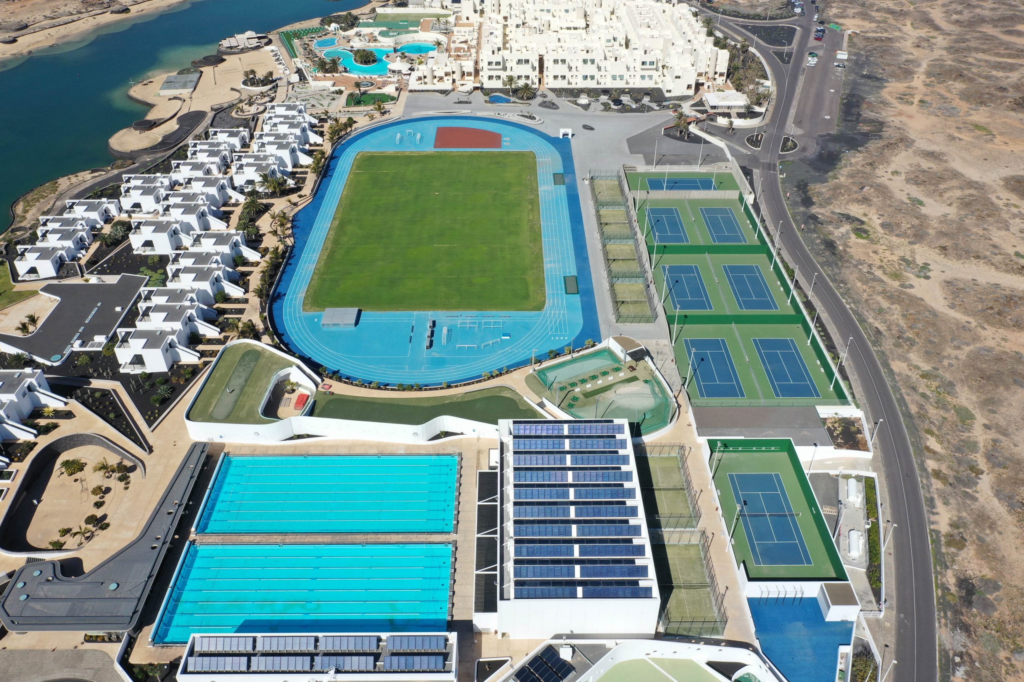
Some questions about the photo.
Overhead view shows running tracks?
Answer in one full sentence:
Yes, you can see a running track in this photo.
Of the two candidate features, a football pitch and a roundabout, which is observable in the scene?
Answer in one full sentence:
The image shows a football pitch.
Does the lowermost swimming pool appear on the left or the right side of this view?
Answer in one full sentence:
It is on the left.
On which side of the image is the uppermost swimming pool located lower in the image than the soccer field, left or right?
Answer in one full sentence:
You can find the uppermost swimming pool located lower in the image than the soccer field on the left side of the picture.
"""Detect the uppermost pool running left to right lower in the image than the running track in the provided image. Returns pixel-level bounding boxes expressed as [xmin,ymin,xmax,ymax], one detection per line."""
[188,449,463,536]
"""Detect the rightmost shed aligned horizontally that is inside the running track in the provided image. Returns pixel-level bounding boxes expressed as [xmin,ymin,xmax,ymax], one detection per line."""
[320,307,364,327]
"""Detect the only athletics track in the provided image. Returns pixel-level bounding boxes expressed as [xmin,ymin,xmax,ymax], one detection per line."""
[273,116,601,387]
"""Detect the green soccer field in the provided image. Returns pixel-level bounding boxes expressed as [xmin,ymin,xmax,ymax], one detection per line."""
[303,151,544,311]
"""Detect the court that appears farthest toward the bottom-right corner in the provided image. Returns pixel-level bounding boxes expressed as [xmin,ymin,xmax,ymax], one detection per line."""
[744,578,858,682]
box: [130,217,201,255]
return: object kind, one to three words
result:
house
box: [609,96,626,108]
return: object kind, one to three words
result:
gazebo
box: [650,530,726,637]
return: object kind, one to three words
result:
sports court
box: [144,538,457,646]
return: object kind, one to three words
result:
swimming pool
